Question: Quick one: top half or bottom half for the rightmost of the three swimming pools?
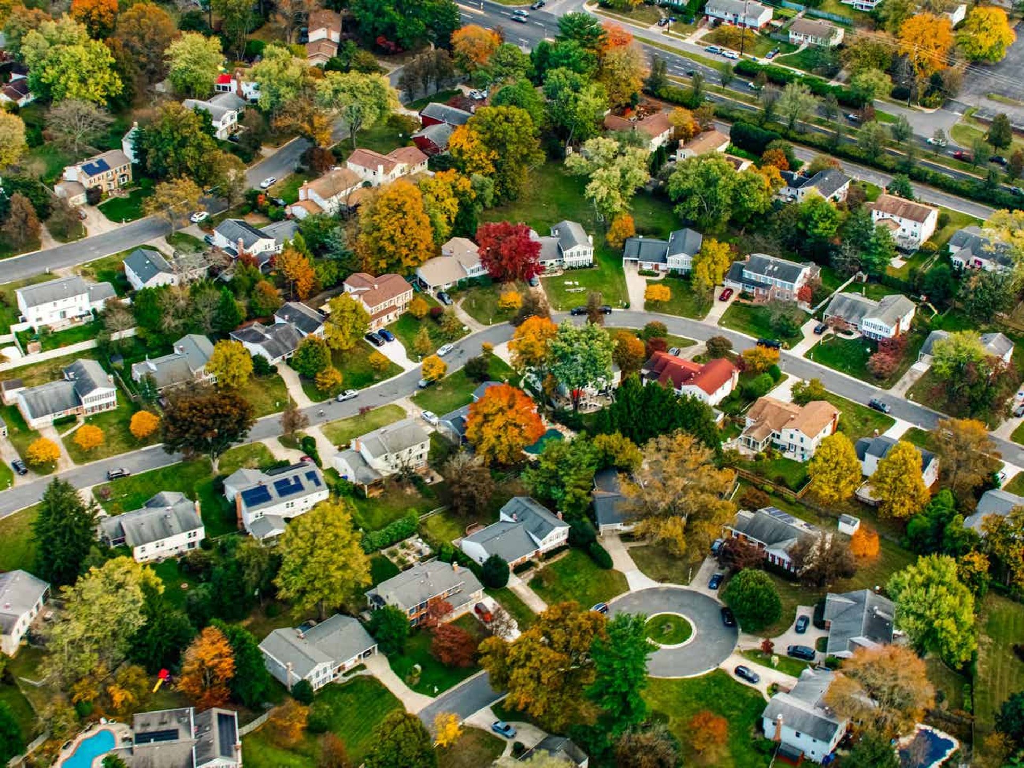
bottom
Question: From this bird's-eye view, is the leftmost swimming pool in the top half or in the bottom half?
bottom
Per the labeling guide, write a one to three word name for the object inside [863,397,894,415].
vehicle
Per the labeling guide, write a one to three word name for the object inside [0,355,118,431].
house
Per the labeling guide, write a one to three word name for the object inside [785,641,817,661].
car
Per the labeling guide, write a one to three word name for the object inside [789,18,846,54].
house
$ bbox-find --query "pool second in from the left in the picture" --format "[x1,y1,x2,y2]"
[521,423,575,459]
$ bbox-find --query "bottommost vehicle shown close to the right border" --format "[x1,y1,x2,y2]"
[992,467,1009,486]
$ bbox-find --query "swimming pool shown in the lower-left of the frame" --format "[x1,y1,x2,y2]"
[53,722,131,768]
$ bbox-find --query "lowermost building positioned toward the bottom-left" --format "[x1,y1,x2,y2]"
[130,697,247,768]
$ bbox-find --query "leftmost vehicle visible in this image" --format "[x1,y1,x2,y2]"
[11,455,29,476]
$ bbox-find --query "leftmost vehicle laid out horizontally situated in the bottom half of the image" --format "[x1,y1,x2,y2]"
[103,466,132,481]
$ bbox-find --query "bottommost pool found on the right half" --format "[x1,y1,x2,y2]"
[896,723,962,768]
